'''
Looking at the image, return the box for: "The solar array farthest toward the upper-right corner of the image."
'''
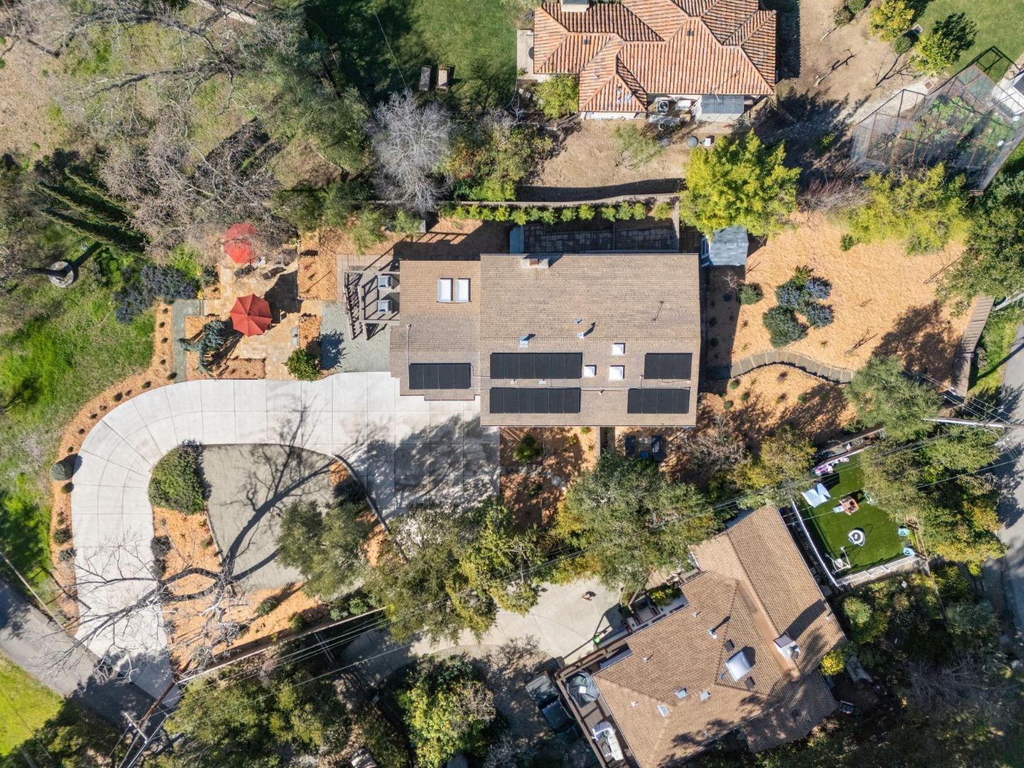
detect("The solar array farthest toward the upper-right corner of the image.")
[645,353,692,380]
